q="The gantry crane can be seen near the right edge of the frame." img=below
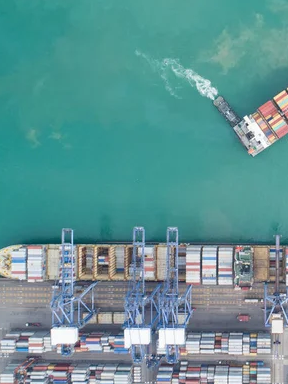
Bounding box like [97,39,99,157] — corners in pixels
[260,235,288,362]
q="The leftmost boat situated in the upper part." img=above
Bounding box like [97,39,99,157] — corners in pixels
[211,97,239,127]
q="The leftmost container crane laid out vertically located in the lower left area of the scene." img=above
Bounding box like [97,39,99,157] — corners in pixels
[50,227,107,359]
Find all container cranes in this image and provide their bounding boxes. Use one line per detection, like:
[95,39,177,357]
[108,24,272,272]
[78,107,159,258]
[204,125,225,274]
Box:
[50,227,107,359]
[14,358,40,384]
[123,226,170,364]
[260,235,288,362]
[158,226,201,365]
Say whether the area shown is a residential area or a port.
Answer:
port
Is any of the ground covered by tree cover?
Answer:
No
